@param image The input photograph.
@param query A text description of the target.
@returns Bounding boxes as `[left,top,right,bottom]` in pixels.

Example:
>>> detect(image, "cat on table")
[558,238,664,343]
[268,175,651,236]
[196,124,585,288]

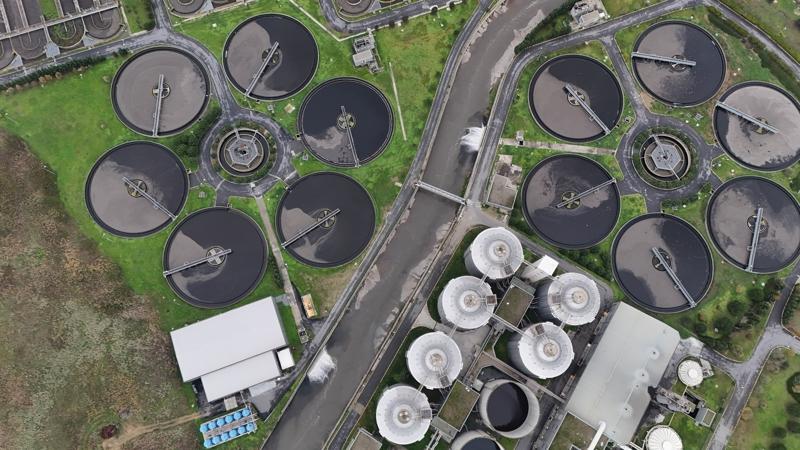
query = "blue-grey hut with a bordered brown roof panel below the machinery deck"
[692,407,716,427]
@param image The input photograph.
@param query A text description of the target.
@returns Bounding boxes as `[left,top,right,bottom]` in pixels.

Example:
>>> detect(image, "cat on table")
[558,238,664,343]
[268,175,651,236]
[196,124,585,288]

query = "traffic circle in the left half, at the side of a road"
[199,114,288,196]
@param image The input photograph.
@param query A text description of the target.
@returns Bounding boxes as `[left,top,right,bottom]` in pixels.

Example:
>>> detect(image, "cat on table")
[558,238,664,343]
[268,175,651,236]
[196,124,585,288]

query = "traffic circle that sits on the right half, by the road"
[623,120,709,202]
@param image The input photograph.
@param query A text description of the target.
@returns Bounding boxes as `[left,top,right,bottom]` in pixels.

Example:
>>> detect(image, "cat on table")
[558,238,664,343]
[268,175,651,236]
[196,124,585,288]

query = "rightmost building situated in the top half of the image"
[570,0,609,30]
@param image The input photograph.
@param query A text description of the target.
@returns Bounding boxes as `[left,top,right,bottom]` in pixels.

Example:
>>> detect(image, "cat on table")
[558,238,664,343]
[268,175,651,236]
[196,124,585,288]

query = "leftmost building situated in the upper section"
[352,31,384,74]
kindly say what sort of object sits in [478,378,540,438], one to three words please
storage tank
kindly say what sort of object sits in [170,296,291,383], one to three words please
building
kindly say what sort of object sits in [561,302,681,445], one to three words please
building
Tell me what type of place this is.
industrial area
